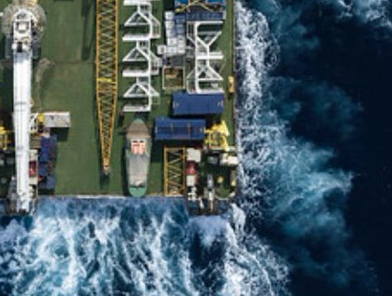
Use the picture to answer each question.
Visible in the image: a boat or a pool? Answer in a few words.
boat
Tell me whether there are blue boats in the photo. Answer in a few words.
No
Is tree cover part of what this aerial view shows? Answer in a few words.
No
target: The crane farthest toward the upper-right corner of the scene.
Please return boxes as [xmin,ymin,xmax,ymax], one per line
[203,118,226,149]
